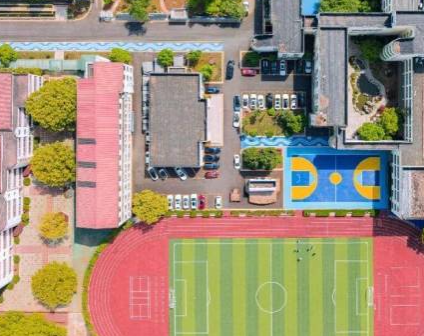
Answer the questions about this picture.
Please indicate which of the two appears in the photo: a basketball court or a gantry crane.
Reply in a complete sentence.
It is a basketball court that can be seen here.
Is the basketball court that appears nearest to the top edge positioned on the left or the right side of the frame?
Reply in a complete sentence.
The basketball court that appears nearest to the top edge appears in the right half of the scene.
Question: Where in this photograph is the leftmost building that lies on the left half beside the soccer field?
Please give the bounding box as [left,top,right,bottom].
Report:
[77,64,136,228]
